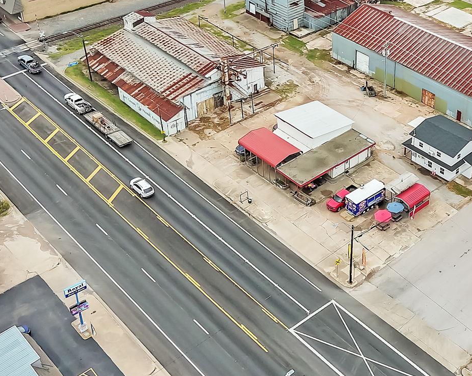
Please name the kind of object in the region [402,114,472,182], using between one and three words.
house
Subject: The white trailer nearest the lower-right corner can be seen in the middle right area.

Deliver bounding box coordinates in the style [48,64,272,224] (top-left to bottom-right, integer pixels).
[344,180,384,216]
